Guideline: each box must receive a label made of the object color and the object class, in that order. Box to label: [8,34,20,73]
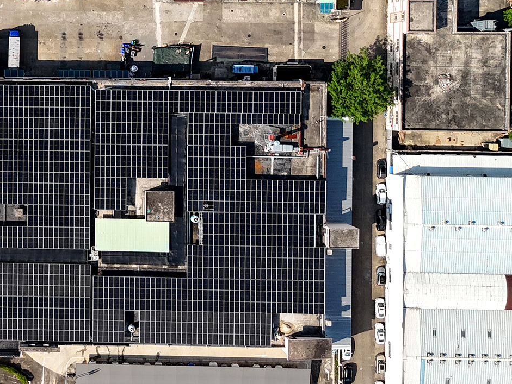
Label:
white vehicle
